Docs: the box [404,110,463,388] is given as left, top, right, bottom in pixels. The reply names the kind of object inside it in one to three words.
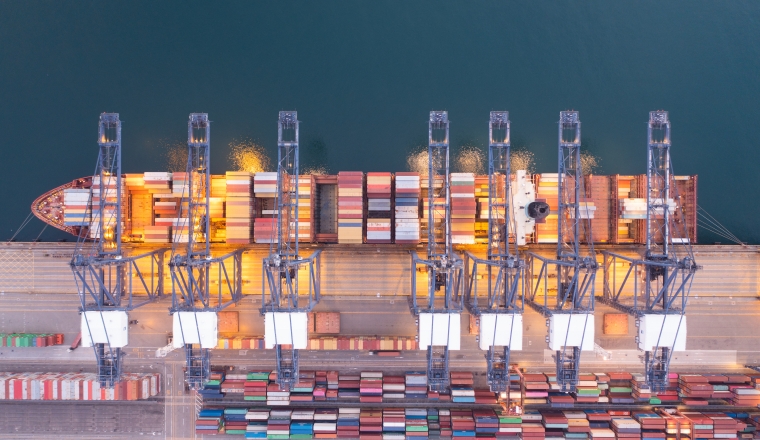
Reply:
container crane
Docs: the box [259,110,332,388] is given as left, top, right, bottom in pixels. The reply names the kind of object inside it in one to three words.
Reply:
container crane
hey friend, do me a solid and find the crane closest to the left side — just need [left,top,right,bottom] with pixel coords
[68,110,180,388]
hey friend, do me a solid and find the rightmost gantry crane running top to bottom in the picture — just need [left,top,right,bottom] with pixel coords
[591,110,700,388]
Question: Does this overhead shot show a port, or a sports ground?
port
